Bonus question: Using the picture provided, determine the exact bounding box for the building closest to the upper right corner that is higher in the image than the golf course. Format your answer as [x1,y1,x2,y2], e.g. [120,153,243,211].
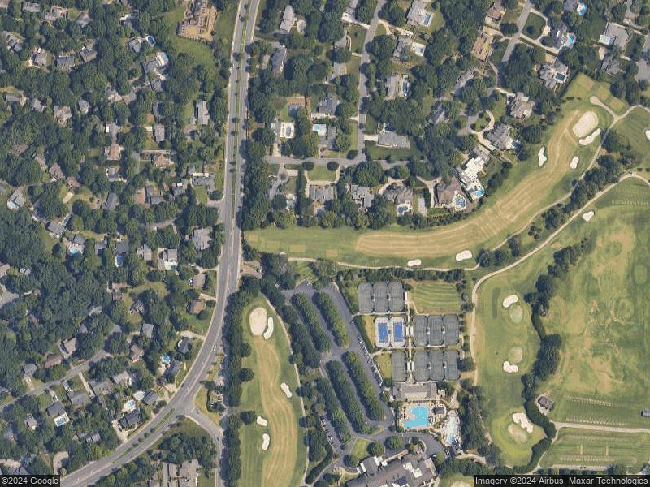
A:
[607,23,631,46]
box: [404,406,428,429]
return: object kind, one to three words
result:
swimming pool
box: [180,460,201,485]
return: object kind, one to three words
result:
house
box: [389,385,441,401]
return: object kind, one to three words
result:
building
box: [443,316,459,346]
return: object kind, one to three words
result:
tennis court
